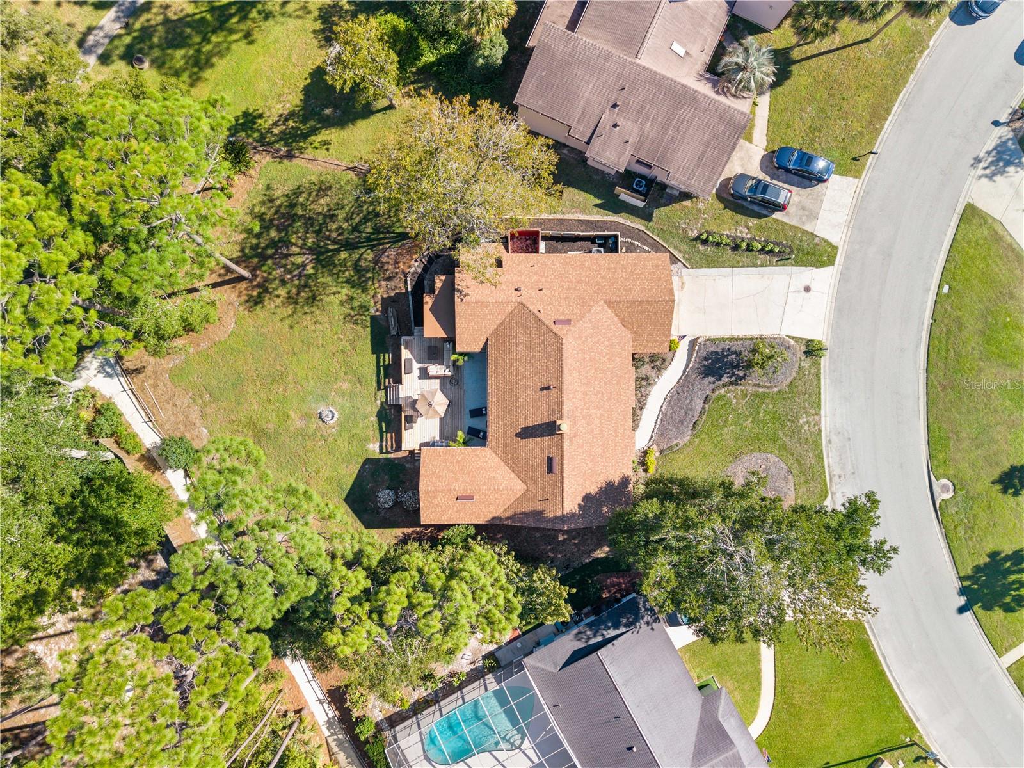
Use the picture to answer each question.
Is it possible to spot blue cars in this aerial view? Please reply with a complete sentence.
Yes, a blue car is visible in the scene.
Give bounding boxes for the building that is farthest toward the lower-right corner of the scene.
[521,592,769,768]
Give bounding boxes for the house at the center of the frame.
[418,244,676,530]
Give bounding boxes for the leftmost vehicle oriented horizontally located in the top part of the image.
[730,175,801,214]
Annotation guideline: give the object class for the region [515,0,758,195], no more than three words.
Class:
house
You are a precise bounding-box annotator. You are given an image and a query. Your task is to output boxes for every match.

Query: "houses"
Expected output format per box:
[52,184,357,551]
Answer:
[515,0,758,195]
[521,592,769,768]
[418,244,676,530]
